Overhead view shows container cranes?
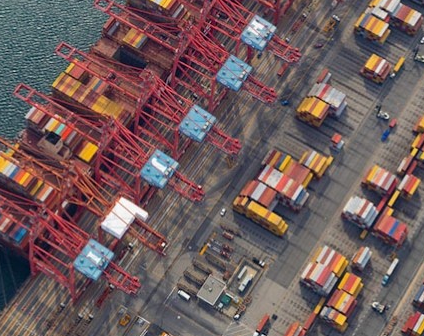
Yes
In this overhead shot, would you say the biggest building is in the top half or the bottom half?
bottom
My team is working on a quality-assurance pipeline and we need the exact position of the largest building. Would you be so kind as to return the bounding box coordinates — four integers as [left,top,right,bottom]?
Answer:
[197,272,228,305]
